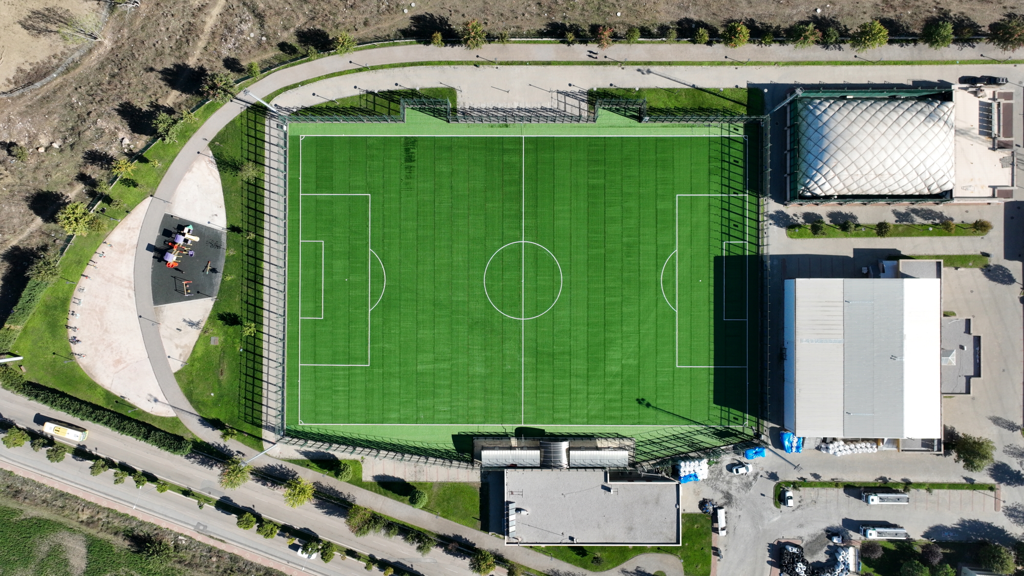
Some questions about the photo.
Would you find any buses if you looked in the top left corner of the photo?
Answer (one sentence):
No, in the top left corner of the photo there is no bus.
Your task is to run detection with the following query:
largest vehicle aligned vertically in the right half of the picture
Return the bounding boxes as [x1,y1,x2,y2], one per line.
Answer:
[715,507,728,535]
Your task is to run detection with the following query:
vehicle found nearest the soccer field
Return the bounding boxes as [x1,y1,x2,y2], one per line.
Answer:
[731,462,752,477]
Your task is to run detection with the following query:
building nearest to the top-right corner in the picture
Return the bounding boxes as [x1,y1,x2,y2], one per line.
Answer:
[939,84,1017,206]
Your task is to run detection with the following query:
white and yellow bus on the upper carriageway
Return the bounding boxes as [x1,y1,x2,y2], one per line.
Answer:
[43,418,96,442]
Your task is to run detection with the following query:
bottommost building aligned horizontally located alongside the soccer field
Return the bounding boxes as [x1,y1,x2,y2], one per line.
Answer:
[504,467,682,546]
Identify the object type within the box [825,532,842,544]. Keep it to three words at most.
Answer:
vehicle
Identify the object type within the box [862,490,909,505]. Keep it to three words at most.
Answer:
vehicle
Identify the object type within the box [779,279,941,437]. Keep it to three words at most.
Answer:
building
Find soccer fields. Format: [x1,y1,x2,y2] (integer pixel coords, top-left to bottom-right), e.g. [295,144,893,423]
[286,121,759,463]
